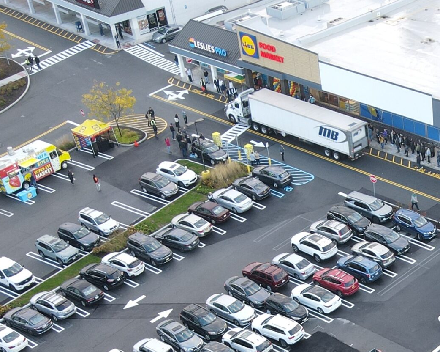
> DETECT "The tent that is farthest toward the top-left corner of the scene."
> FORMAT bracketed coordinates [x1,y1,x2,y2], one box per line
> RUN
[73,122,120,158]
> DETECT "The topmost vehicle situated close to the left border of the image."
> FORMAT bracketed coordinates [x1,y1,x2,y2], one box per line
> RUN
[0,141,66,191]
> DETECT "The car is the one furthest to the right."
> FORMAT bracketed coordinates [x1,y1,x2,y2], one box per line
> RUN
[391,209,438,239]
